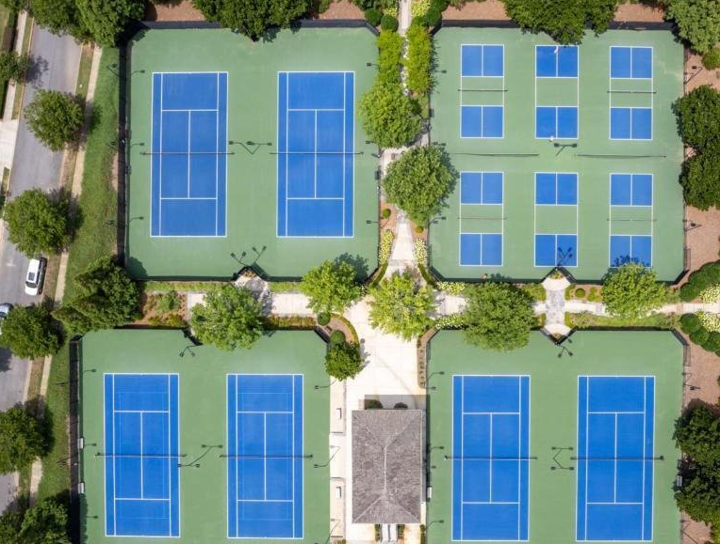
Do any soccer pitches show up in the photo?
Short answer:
No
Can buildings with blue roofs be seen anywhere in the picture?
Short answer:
No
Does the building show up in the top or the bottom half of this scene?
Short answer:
bottom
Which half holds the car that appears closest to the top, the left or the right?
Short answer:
left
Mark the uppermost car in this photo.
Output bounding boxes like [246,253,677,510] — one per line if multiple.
[21,257,43,295]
